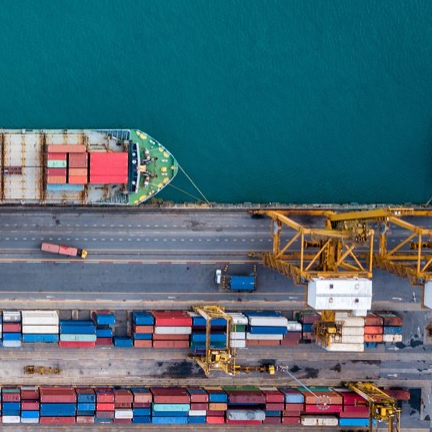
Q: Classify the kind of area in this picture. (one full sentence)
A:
It's a port.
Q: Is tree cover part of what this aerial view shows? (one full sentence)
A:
No, tree cover can't be seen anywhere here.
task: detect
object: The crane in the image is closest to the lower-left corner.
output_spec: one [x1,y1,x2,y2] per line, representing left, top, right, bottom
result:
[193,307,236,377]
